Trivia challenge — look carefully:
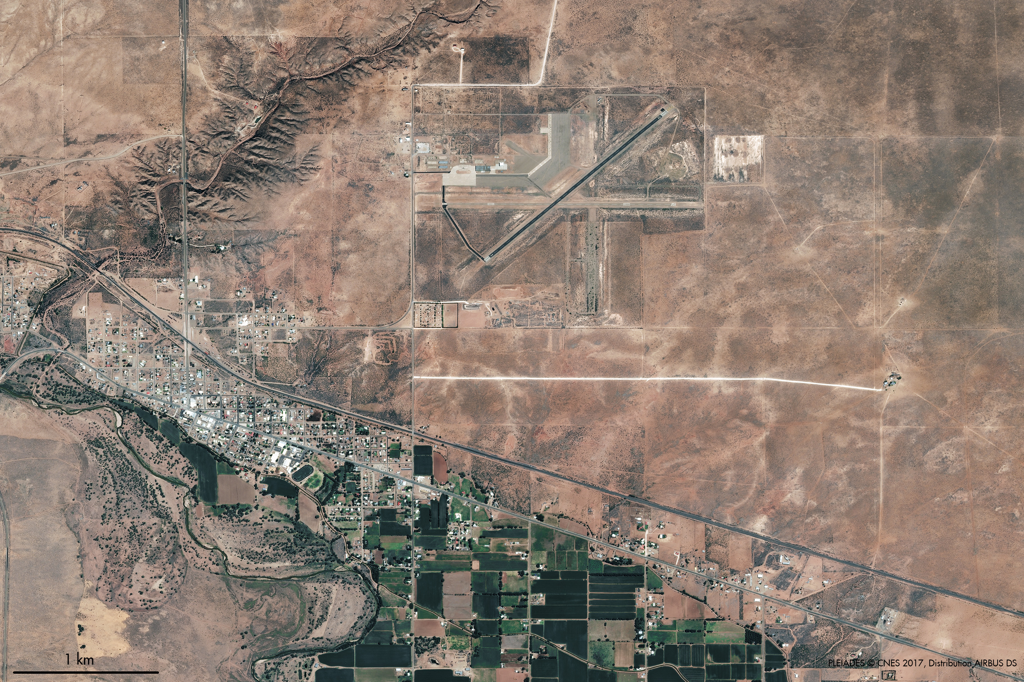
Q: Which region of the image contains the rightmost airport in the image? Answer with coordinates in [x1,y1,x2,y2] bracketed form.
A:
[443,93,701,315]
